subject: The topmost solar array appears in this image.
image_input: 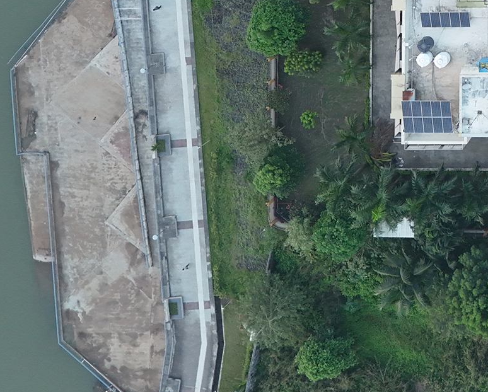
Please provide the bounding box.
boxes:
[421,13,469,31]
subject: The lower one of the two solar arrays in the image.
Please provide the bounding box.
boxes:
[402,102,451,137]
